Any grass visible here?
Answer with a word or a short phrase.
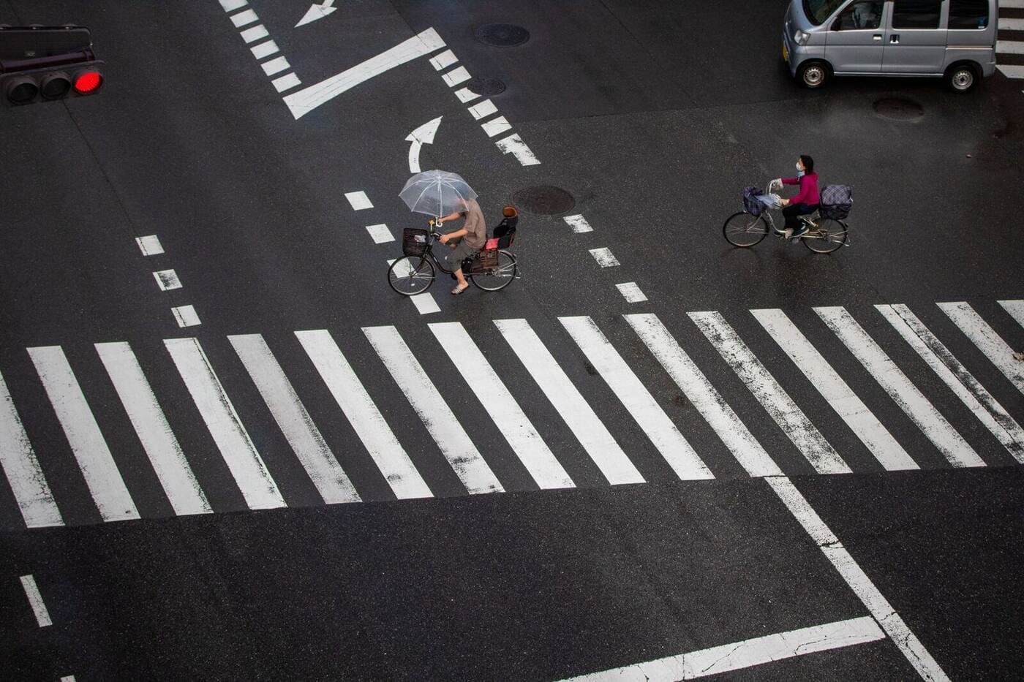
No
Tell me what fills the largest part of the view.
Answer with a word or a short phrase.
paved ground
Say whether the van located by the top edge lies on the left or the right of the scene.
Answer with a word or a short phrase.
right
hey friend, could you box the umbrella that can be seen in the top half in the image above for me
[402,169,481,225]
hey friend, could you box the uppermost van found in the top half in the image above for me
[780,0,998,95]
